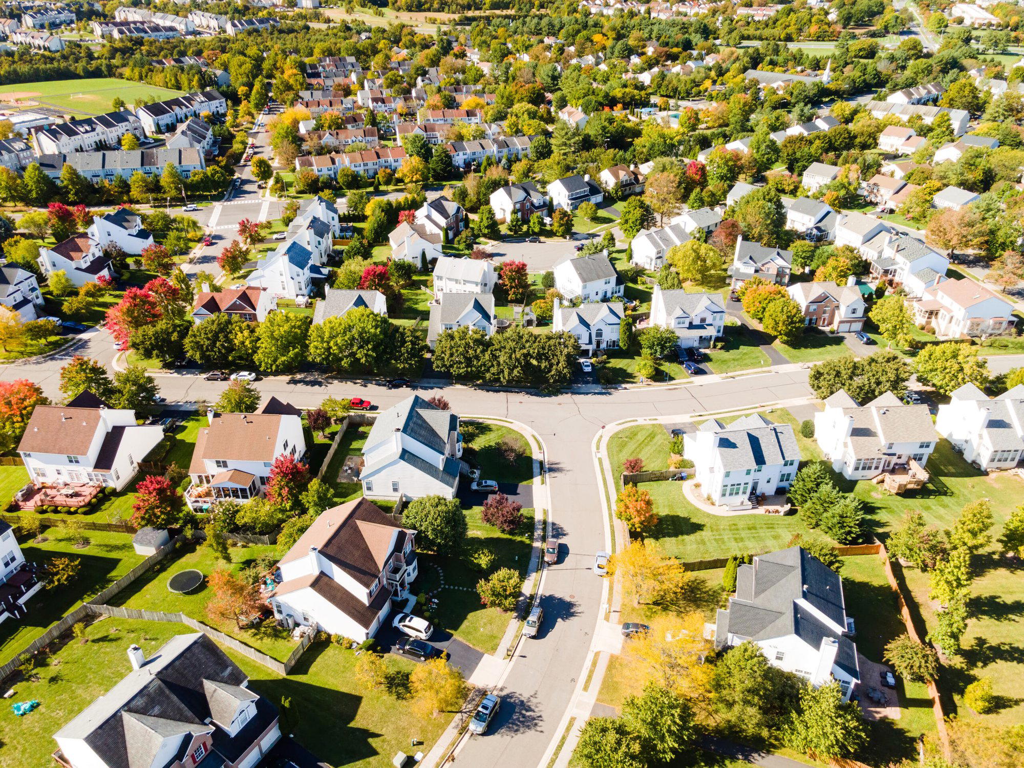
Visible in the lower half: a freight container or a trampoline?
trampoline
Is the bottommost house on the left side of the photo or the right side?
left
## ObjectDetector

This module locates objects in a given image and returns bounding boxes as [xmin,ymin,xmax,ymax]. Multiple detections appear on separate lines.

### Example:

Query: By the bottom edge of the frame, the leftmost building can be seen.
[42,634,289,768]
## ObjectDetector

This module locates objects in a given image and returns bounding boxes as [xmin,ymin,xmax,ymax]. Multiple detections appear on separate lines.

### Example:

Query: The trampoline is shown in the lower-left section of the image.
[168,571,202,598]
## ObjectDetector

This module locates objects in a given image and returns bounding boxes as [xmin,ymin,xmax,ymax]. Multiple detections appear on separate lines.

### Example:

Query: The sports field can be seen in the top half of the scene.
[0,80,186,124]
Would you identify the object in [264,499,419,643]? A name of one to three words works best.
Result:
house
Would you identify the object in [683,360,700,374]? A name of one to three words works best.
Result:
car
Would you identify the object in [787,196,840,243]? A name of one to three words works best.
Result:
house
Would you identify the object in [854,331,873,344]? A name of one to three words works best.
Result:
vehicle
